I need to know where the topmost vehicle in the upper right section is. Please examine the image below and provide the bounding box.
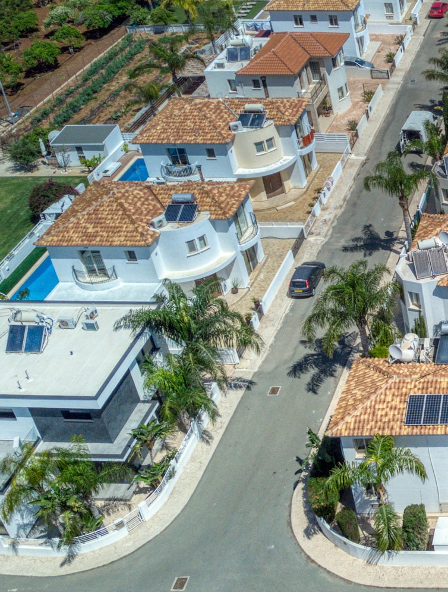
[431,1,448,16]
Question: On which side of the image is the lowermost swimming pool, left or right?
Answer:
left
